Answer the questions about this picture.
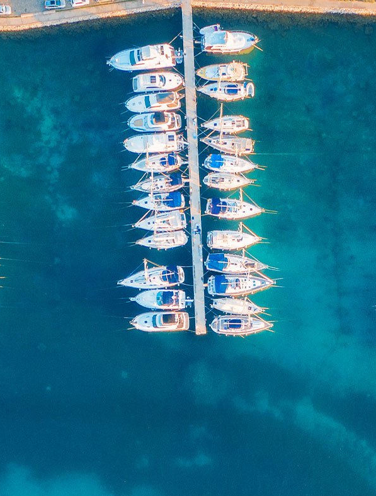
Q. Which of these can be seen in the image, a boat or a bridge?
boat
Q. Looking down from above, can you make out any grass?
No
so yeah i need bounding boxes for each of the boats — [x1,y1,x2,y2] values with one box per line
[125,72,186,94]
[136,224,199,250]
[195,247,273,274]
[119,165,193,193]
[198,265,283,295]
[195,189,272,221]
[206,309,277,335]
[197,222,273,250]
[199,104,258,134]
[123,184,195,212]
[121,206,195,232]
[118,260,195,290]
[97,41,187,73]
[115,91,184,114]
[193,163,259,191]
[120,308,199,332]
[200,120,264,157]
[124,110,192,132]
[197,65,246,82]
[121,141,190,173]
[127,287,196,311]
[192,27,263,53]
[197,68,254,100]
[194,144,260,173]
[203,293,276,316]
[112,131,193,154]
